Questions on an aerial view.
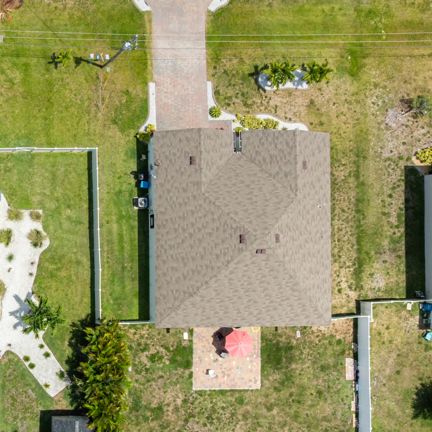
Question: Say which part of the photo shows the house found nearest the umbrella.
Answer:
center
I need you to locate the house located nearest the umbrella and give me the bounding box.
[150,129,331,328]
